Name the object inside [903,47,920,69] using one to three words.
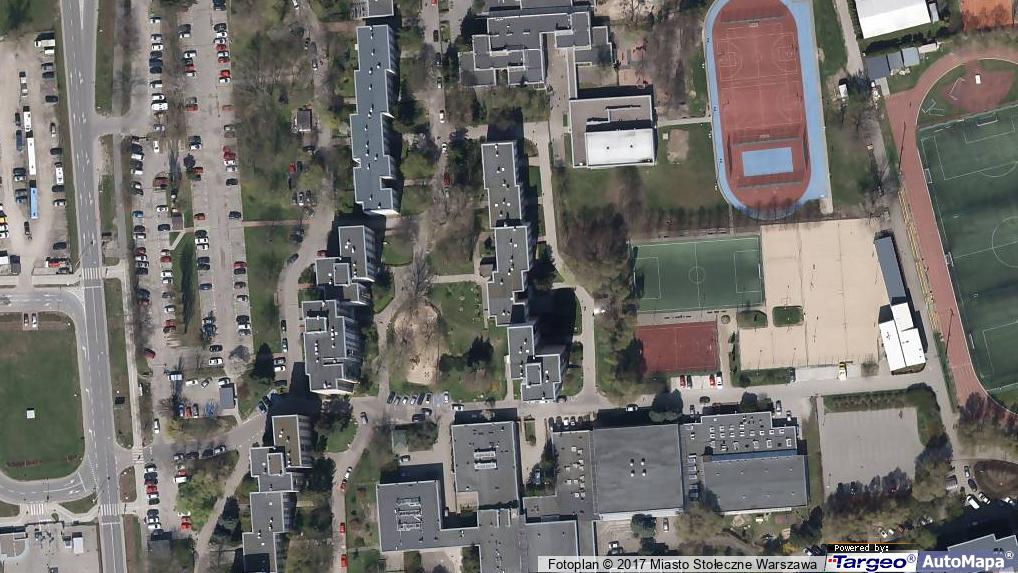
shed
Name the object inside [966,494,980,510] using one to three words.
vehicle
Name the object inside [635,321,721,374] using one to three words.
basketball court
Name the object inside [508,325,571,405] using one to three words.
building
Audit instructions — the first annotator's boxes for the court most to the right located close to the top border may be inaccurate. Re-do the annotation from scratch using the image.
[961,0,1013,32]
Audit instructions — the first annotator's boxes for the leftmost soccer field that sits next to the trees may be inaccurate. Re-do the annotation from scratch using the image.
[633,232,765,314]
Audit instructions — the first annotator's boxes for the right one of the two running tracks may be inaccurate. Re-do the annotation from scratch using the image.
[886,46,1018,448]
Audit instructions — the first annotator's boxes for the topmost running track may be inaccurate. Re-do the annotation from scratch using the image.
[704,0,831,221]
